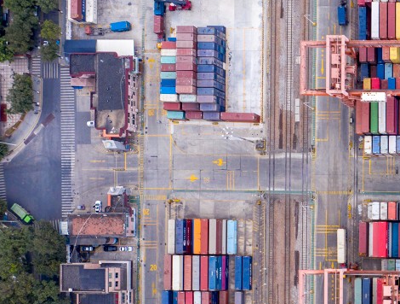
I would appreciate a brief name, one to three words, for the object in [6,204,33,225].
truck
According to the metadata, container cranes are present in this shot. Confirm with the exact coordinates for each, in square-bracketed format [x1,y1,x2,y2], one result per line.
[301,34,400,118]
[300,258,400,304]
